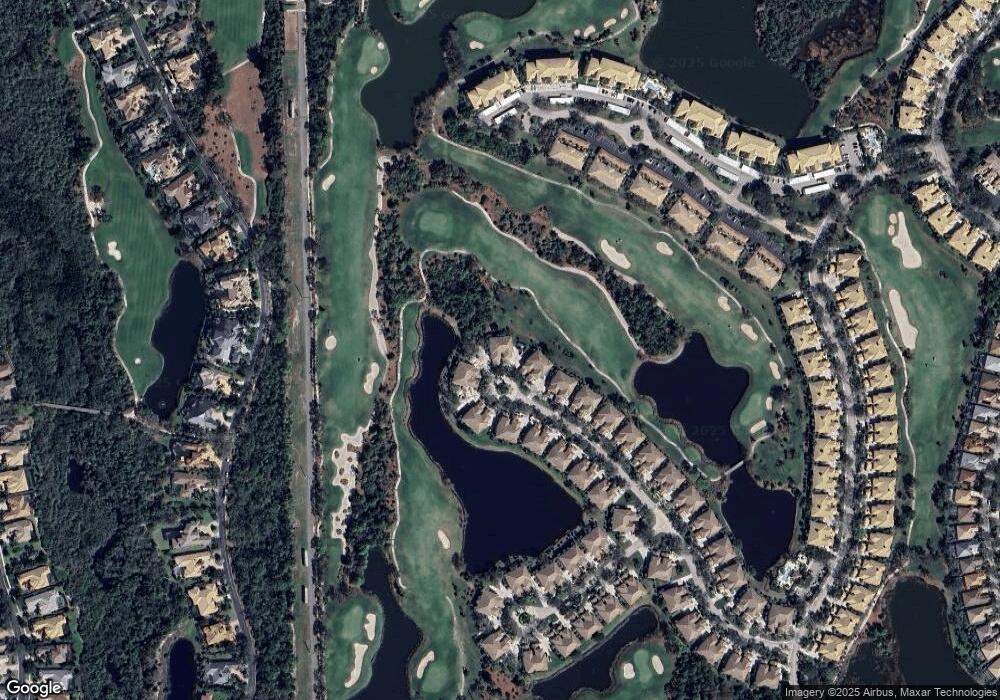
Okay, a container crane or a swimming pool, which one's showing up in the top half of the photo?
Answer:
swimming pool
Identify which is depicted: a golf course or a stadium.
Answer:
golf course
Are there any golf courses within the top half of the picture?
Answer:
Yes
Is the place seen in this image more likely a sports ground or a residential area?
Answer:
residential area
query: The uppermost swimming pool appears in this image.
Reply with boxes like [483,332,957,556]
[644,76,675,104]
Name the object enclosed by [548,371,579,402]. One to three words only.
house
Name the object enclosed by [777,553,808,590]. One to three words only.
swimming pool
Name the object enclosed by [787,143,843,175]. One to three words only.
building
